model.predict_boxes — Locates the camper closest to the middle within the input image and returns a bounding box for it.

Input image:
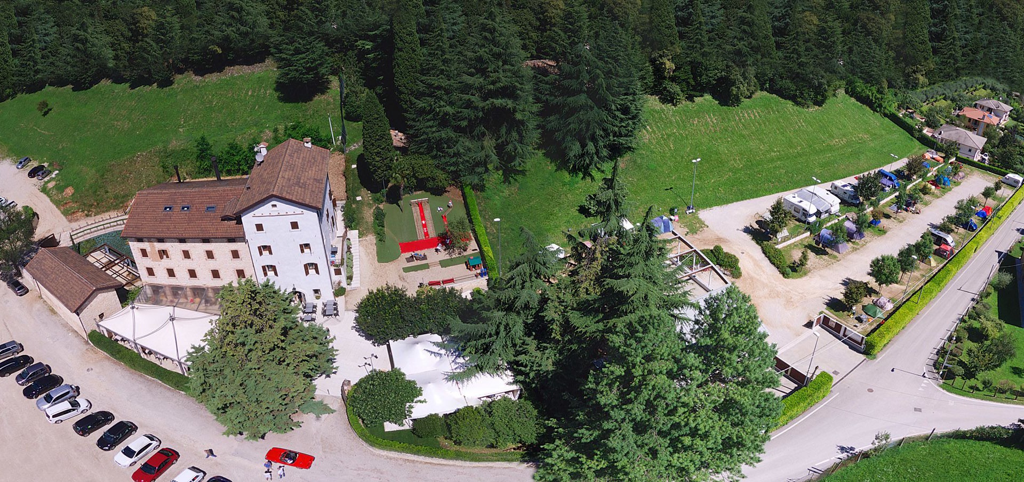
[543,241,565,265]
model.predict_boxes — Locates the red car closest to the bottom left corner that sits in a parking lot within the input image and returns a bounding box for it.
[130,449,183,482]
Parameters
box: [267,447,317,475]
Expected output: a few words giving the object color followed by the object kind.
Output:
red car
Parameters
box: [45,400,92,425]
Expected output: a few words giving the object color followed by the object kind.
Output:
white car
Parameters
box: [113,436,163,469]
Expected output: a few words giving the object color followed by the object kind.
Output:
white car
